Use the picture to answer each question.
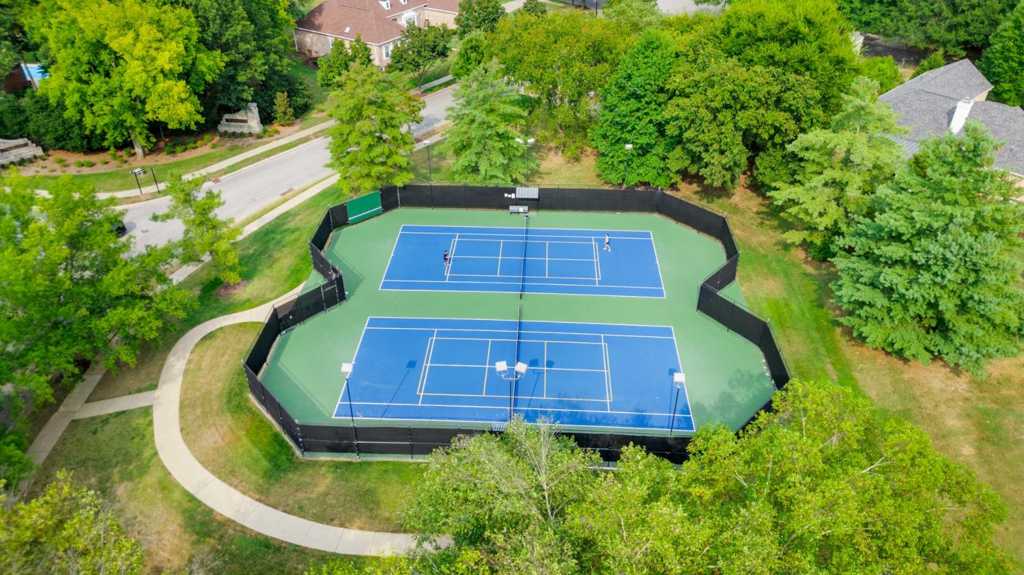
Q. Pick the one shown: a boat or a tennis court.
tennis court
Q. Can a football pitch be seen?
No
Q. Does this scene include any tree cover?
Yes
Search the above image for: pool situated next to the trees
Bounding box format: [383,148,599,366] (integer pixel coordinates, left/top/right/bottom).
[16,63,42,82]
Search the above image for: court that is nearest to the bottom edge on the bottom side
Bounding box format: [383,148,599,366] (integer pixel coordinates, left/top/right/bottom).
[333,316,696,431]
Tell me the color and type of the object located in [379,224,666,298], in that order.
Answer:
blue tennis court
